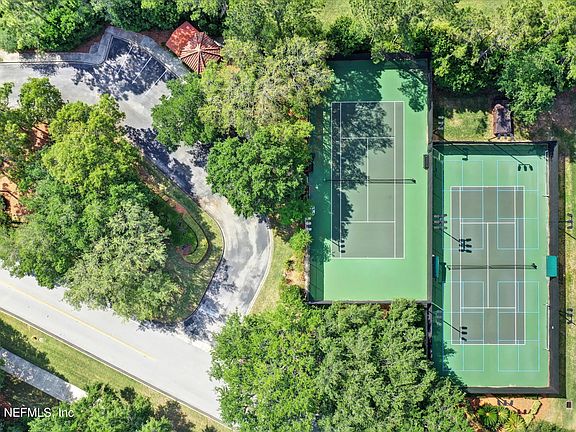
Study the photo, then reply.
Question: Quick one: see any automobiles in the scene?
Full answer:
No, I can see no automobile in this picture.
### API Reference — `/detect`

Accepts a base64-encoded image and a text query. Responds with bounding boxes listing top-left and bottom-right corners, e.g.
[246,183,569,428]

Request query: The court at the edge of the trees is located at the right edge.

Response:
[433,143,549,387]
